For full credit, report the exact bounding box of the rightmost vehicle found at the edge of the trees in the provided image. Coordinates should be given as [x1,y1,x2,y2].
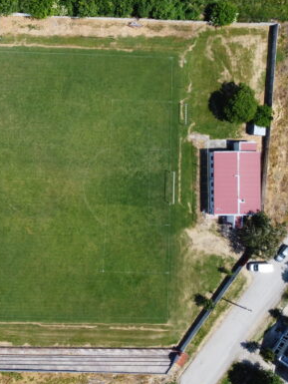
[273,243,288,261]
